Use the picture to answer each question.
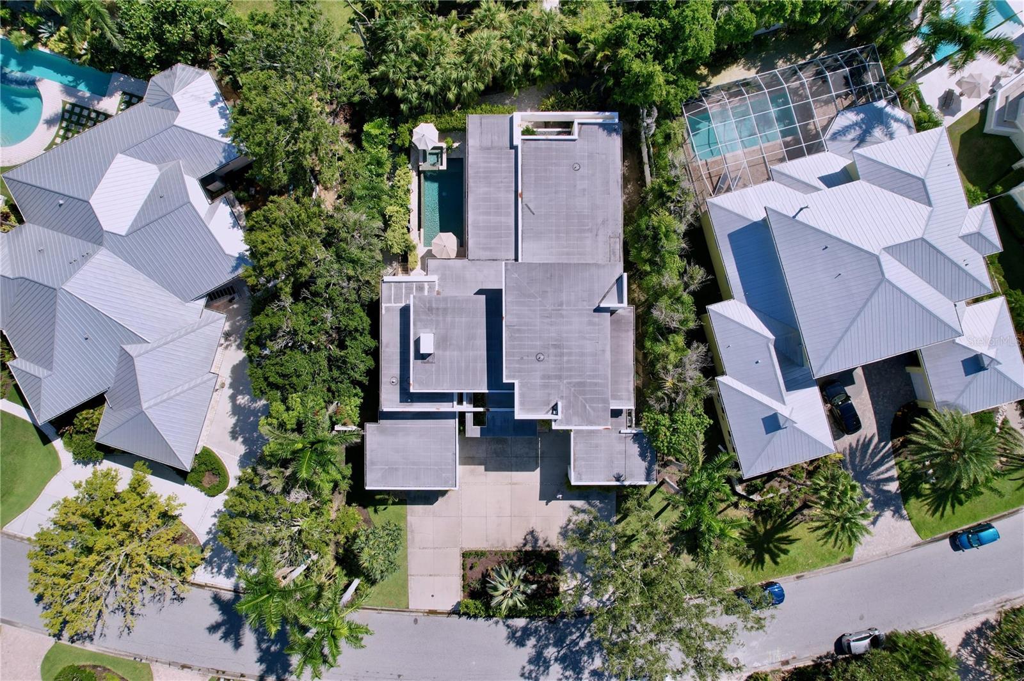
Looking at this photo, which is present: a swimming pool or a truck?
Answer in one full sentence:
Of the two, only a swimming pool appears.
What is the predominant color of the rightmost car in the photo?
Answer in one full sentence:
In this view, the rightmost car is blue.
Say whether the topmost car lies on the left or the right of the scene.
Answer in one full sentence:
You can find the topmost car on the right side of the picture.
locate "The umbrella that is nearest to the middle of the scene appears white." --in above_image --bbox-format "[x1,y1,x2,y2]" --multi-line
[431,232,459,259]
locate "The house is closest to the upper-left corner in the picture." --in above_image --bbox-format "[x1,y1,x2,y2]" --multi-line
[0,66,255,472]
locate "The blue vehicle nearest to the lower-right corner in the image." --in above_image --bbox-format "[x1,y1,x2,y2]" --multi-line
[958,520,1008,553]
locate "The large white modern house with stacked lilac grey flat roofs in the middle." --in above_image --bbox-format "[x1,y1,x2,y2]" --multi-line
[365,111,657,491]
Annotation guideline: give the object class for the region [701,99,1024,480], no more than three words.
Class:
house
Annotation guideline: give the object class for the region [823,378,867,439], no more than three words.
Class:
car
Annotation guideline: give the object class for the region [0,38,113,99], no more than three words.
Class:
swimming pool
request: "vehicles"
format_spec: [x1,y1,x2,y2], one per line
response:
[842,628,895,660]
[738,583,790,616]
[823,378,867,439]
[958,520,1008,553]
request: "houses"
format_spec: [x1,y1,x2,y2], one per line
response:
[701,99,1024,480]
[0,66,255,472]
[973,70,1024,215]
[365,111,657,491]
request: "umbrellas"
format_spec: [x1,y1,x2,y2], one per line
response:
[412,122,440,151]
[956,69,989,103]
[431,232,459,259]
